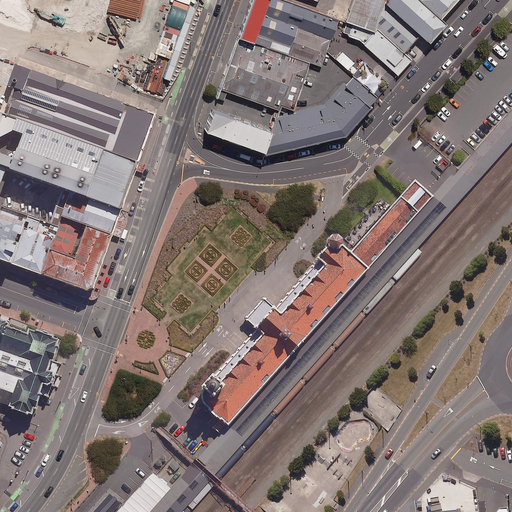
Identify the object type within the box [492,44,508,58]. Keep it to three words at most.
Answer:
vehicle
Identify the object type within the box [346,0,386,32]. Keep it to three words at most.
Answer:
shed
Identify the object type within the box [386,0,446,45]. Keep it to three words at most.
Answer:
building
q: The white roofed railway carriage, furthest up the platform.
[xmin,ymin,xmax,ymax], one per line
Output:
[394,250,423,280]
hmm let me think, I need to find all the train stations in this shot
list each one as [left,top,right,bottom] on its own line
[200,180,434,428]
